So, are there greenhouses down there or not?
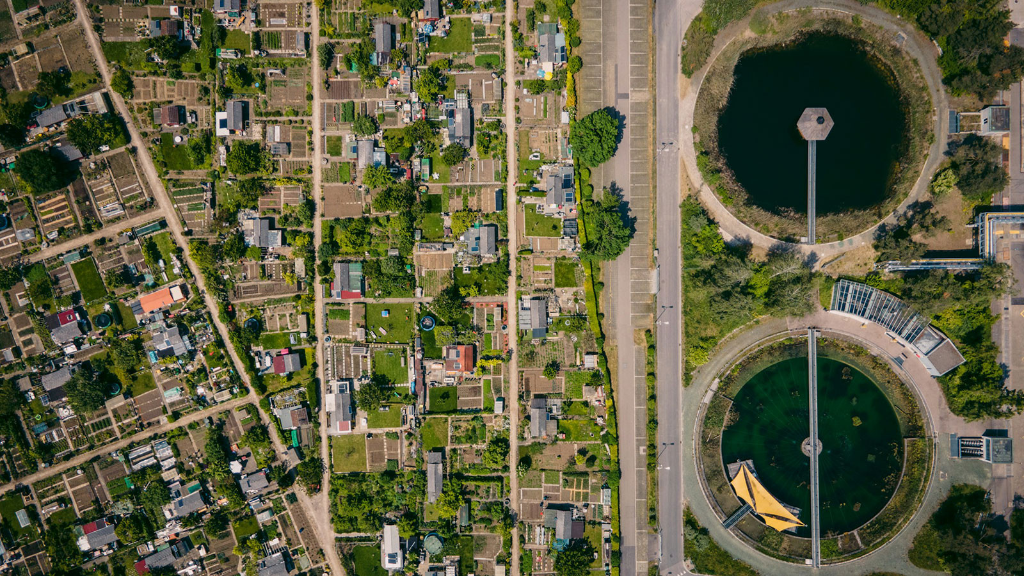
Yes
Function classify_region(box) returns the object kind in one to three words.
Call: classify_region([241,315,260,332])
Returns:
trampoline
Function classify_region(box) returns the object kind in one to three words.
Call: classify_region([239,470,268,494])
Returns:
shed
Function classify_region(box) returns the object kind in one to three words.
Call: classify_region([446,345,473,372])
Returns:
shed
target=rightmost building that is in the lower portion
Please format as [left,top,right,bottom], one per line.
[960,434,1013,463]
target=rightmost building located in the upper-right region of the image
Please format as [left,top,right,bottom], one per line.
[959,105,1010,135]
